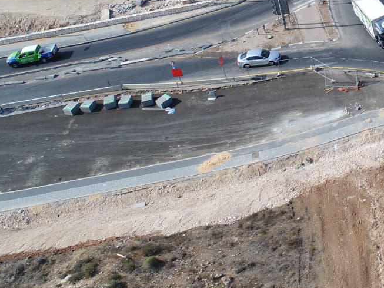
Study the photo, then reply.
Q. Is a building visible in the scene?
No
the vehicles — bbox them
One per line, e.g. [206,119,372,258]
[6,45,60,71]
[236,49,281,68]
[353,0,384,46]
